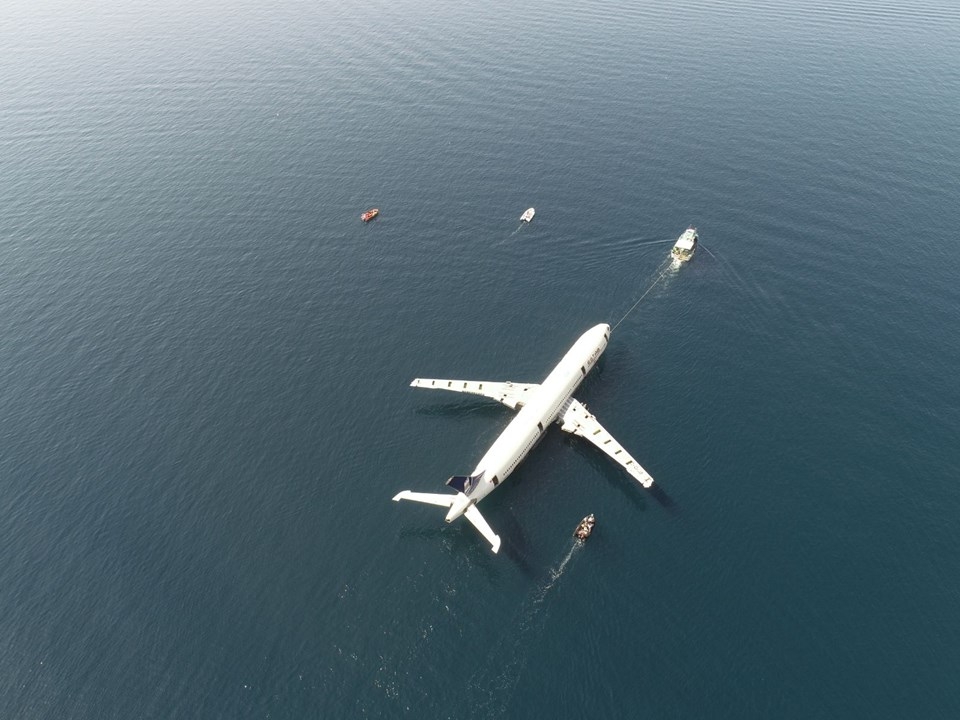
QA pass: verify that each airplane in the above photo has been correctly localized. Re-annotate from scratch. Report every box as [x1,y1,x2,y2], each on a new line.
[393,324,653,554]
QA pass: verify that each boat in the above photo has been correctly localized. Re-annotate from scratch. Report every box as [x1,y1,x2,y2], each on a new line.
[573,514,593,539]
[673,226,698,263]
[361,209,379,220]
[520,208,535,221]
